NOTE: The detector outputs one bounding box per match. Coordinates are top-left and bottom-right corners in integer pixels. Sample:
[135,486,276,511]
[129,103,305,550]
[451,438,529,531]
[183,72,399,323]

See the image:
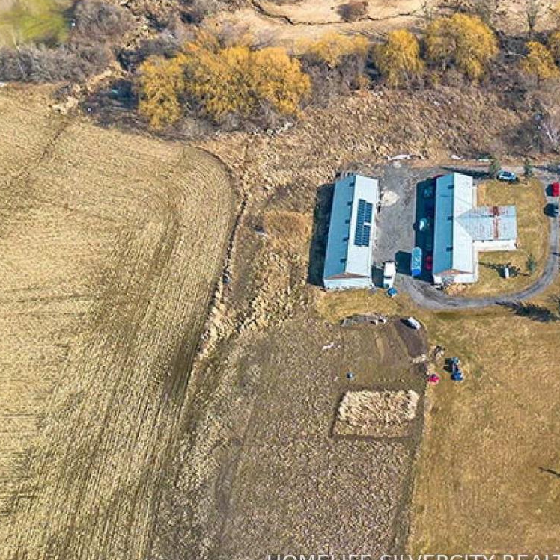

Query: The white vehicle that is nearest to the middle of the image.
[381,260,395,286]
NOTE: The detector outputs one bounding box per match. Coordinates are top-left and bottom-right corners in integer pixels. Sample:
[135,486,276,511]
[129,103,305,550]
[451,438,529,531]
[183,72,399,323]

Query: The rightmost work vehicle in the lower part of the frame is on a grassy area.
[449,359,464,387]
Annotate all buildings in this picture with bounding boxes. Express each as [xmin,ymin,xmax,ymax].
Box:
[433,172,517,286]
[324,174,378,286]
